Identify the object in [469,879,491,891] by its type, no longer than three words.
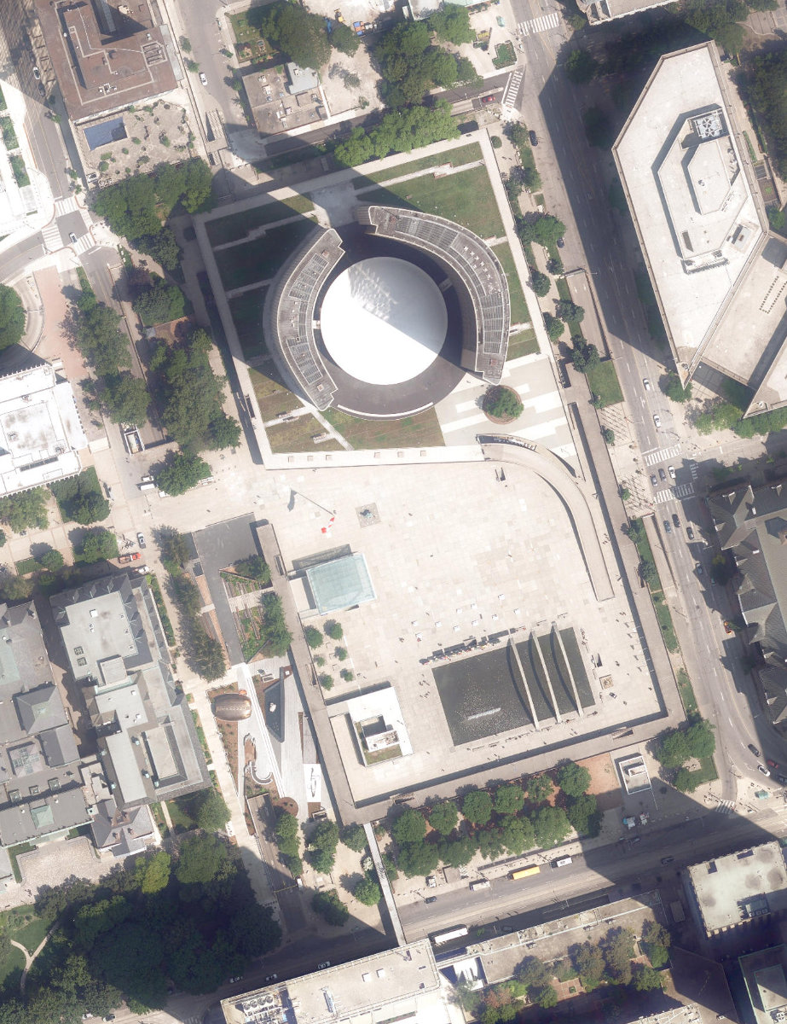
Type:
vehicle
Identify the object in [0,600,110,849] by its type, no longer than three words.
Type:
building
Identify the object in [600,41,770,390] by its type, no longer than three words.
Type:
building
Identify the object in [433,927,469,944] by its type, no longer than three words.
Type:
vehicle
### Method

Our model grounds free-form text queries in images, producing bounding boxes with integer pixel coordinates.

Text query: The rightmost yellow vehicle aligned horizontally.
[510,866,542,880]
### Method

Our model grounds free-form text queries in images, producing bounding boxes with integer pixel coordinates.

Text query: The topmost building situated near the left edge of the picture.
[26,0,183,122]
